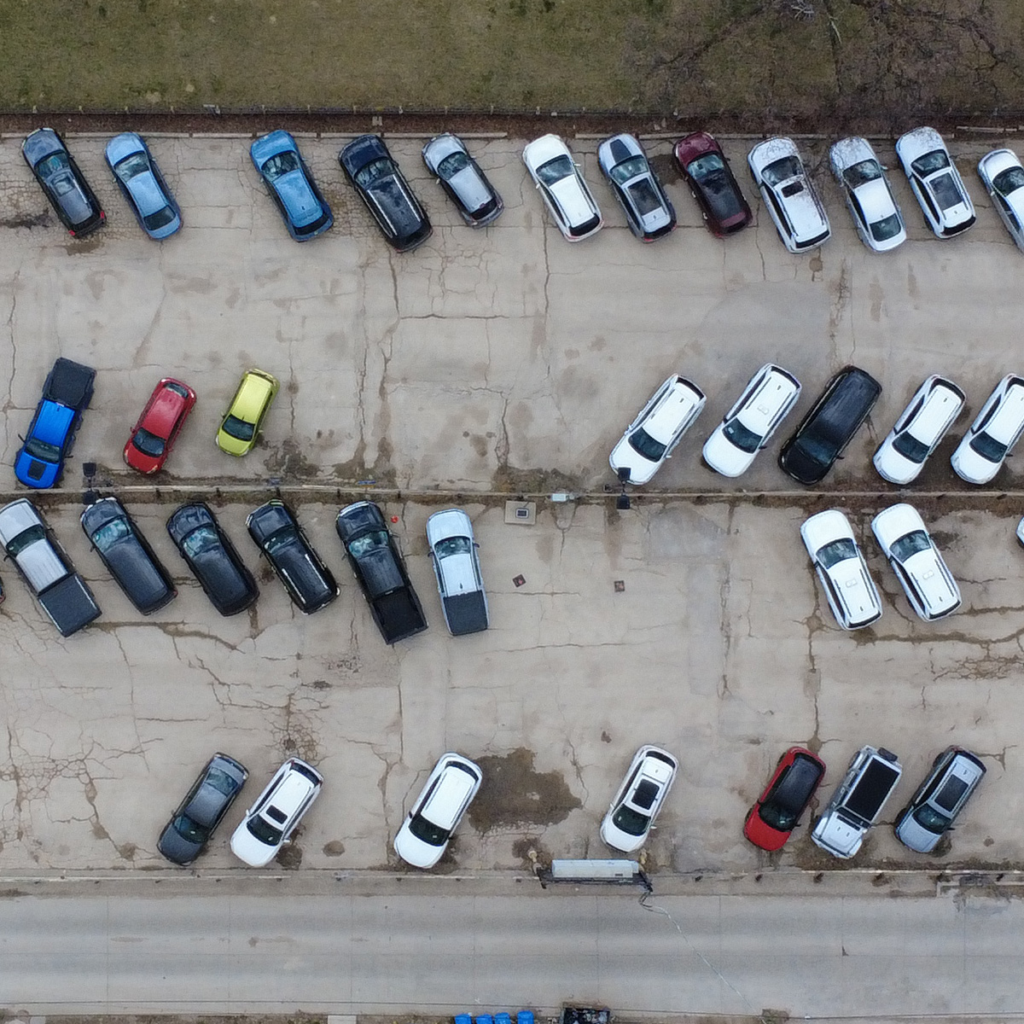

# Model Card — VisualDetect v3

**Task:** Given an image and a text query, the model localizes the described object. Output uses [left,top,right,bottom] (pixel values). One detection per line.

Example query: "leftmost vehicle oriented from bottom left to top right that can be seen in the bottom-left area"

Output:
[160,752,248,865]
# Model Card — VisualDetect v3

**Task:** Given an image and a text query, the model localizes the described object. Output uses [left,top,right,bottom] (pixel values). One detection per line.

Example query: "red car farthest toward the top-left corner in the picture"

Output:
[125,378,198,473]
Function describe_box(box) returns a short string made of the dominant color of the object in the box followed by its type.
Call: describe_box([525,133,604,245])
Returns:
white car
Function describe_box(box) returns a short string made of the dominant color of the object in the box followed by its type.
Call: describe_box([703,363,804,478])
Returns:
white car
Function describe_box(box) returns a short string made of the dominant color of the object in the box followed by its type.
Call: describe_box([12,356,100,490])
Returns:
blue truck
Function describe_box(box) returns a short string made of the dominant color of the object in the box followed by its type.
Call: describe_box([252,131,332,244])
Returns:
blue car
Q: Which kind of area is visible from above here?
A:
parking lot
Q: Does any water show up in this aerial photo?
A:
No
